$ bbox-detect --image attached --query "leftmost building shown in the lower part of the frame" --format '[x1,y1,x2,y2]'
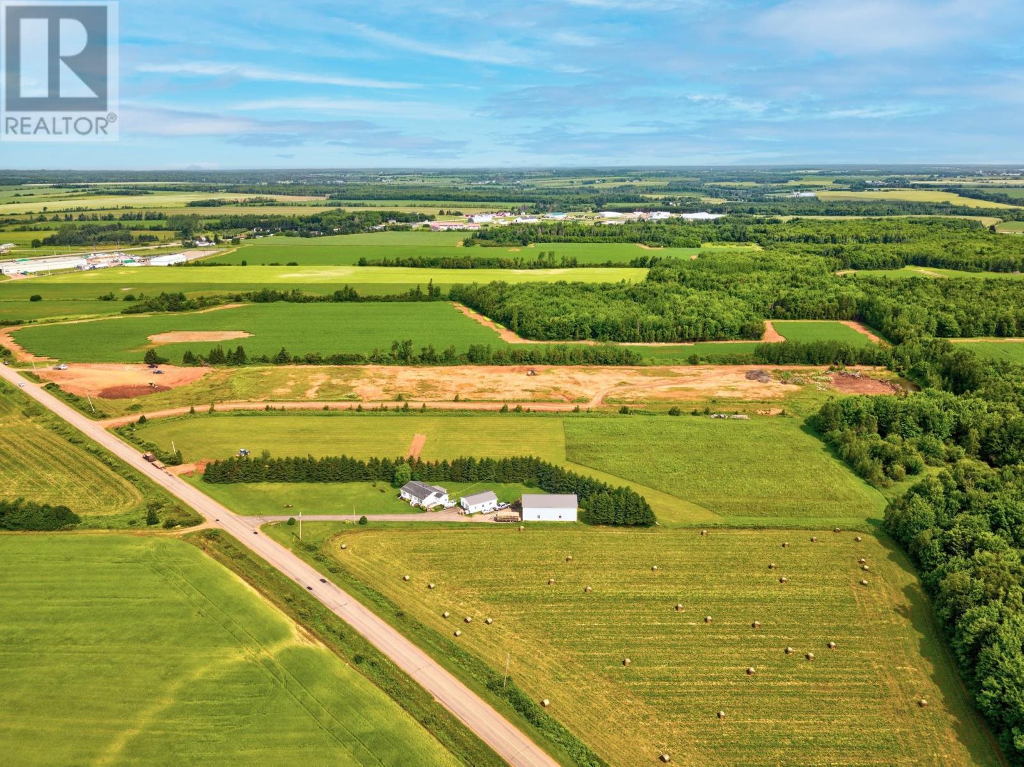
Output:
[399,479,457,511]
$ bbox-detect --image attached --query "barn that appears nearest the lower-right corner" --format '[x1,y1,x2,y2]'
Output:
[522,491,577,521]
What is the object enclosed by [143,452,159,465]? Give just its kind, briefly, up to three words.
vehicle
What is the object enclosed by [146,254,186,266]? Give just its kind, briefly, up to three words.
shed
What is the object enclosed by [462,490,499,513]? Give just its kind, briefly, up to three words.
building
